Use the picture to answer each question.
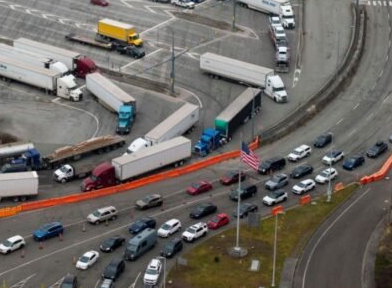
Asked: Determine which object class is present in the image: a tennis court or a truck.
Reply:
truck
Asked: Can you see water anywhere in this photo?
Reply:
No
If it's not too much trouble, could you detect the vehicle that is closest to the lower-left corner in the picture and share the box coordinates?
[0,235,26,254]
